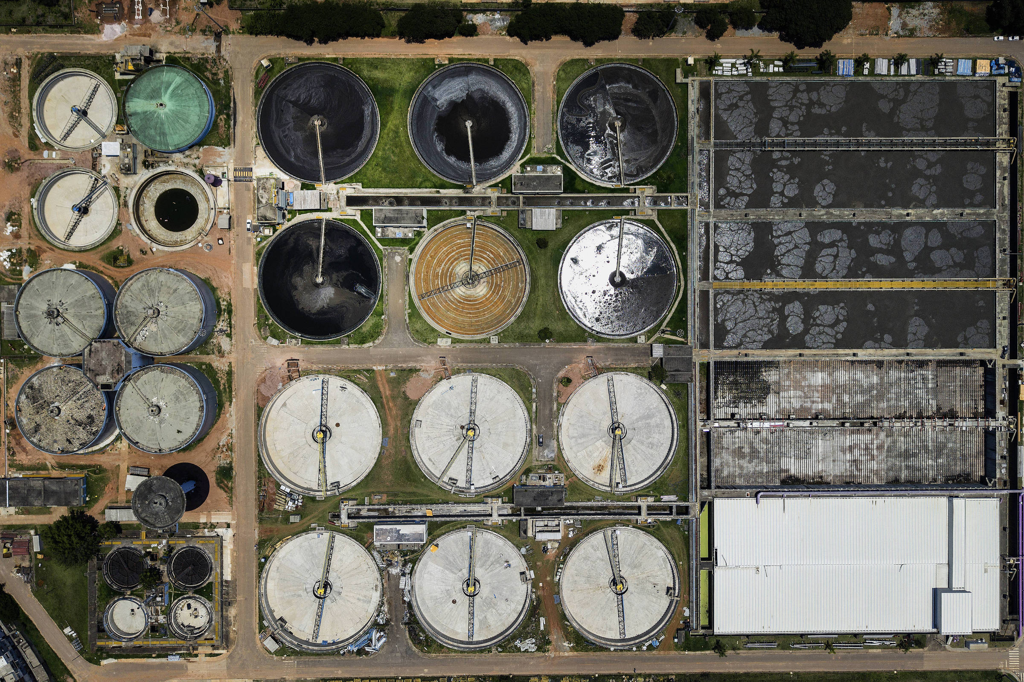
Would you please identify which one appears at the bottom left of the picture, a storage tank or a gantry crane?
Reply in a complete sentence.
What appears at the bottom left of the picture is a storage tank.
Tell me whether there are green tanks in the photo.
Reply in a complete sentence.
Yes, looking at the shot, I can spot a green tank.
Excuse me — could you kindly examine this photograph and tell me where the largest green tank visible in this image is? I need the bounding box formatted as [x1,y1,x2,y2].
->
[124,65,215,154]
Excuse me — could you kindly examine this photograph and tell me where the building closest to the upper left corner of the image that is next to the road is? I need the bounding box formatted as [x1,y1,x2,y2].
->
[114,45,166,79]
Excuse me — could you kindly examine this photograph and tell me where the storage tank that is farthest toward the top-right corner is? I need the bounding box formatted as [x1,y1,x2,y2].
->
[558,62,679,187]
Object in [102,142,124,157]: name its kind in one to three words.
building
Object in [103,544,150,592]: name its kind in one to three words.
storage tank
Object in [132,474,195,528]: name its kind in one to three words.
water tower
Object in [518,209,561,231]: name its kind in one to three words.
shed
